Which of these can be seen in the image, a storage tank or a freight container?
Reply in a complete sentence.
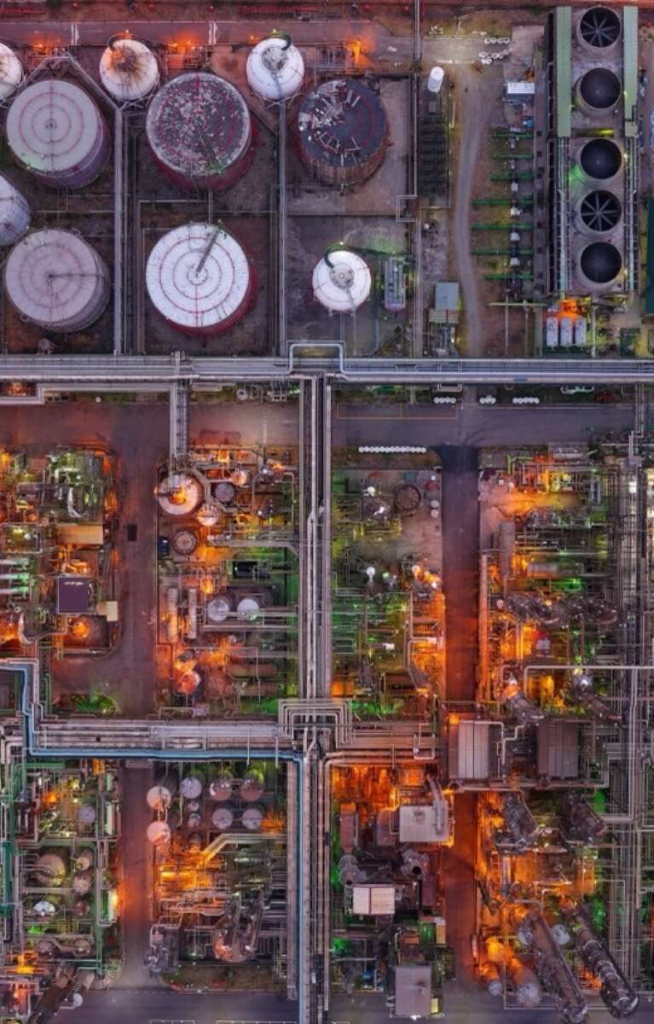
Of the two, only a storage tank appears.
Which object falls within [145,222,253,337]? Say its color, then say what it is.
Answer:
white storage tank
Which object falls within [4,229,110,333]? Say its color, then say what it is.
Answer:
gray storage tank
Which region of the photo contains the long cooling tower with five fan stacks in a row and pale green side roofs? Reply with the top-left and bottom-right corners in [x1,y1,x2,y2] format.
[544,5,640,305]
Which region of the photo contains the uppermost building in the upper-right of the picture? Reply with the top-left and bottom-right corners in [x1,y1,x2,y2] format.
[506,82,535,97]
